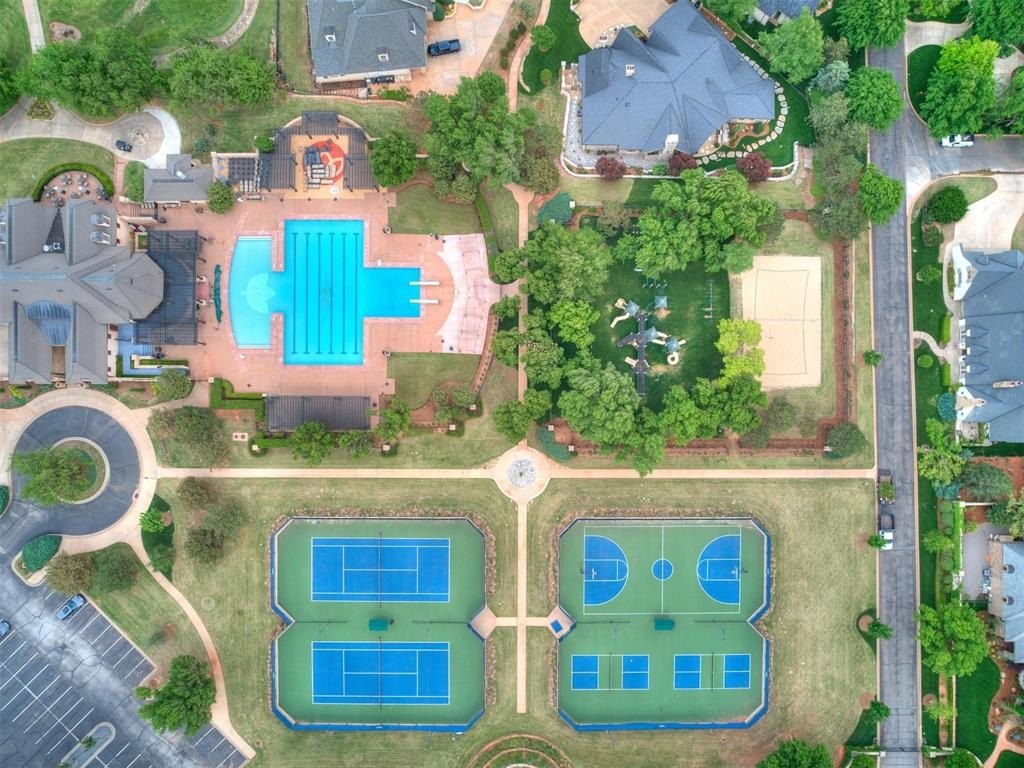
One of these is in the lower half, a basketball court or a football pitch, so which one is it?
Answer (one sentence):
You can see a basketball court in the lower half.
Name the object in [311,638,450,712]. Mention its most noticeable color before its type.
blue tennis court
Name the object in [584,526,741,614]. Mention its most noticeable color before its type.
blue basketball court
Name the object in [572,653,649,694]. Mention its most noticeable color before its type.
blue sports court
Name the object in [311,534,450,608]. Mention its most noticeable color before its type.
blue tennis court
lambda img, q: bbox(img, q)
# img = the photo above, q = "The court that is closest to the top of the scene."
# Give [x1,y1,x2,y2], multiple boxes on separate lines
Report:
[729,240,825,389]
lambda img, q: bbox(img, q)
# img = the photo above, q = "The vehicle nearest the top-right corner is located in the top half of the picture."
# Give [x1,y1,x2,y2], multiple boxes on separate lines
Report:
[942,131,979,147]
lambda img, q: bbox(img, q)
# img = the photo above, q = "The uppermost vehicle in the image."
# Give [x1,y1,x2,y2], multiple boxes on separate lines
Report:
[426,35,463,54]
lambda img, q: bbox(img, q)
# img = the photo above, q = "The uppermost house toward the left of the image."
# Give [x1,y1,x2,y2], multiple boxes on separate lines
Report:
[308,0,439,82]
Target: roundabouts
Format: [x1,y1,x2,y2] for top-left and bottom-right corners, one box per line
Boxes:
[0,404,141,559]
